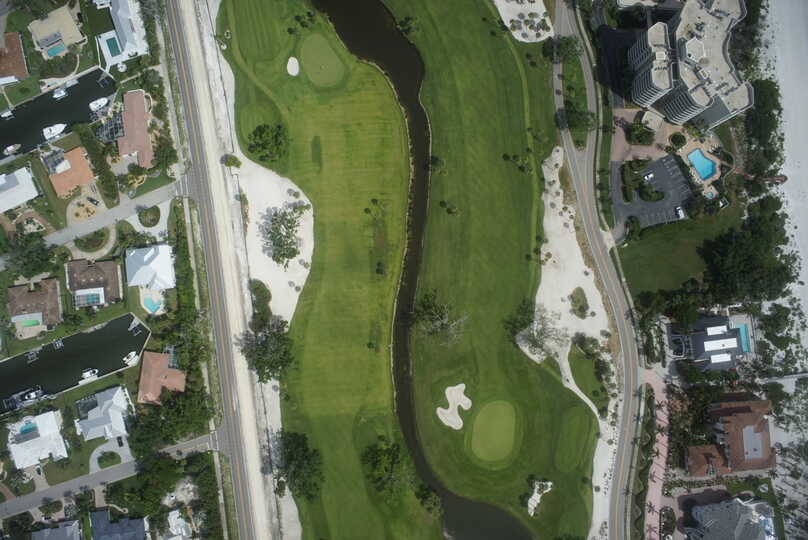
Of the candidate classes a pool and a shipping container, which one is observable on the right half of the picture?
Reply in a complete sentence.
Looking on the right half of the picture, you will find a pool.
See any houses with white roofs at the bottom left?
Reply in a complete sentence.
Yes, a house with a white roof shows up at the bottom left.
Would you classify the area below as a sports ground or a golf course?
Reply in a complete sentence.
This image shows a golf course.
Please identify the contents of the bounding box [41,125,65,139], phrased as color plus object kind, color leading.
white boat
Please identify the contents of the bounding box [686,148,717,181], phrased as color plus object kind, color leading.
blue swimming pool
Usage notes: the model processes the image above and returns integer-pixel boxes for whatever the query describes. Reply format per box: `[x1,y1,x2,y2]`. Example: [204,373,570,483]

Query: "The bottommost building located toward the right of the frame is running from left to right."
[682,497,775,540]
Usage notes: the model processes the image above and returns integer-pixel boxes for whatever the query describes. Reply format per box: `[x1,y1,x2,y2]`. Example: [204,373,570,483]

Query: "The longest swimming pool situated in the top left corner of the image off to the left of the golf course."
[40,38,70,60]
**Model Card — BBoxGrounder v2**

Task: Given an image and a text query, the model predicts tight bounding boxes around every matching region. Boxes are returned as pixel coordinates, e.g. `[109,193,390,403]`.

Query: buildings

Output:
[92,508,148,540]
[66,261,122,304]
[10,411,69,469]
[628,0,754,127]
[117,91,155,168]
[48,147,96,198]
[8,278,63,324]
[0,167,38,214]
[170,511,193,540]
[33,519,86,540]
[682,497,775,540]
[612,0,661,13]
[126,246,177,290]
[29,6,86,48]
[716,398,776,474]
[93,0,139,53]
[686,316,744,370]
[139,351,186,403]
[642,111,664,131]
[0,32,29,81]
[79,387,128,441]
